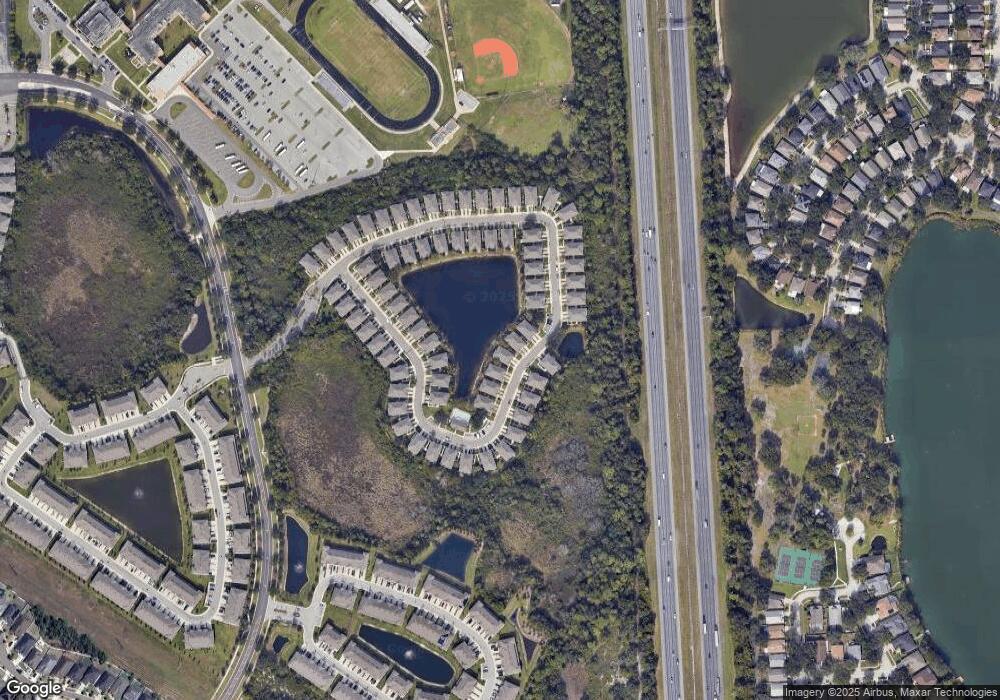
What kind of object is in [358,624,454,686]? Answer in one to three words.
pond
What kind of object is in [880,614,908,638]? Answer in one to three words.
house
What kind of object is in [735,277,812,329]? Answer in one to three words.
pond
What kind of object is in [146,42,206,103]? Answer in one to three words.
building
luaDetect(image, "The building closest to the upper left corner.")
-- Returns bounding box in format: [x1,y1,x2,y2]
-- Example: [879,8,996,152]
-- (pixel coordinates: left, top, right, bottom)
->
[73,0,123,47]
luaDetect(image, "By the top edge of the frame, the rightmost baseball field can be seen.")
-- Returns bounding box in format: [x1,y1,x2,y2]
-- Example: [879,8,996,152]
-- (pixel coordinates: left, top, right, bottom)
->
[473,0,573,84]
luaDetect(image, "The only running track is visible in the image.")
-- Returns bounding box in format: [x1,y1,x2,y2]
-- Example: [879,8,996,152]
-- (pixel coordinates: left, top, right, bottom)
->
[291,0,445,136]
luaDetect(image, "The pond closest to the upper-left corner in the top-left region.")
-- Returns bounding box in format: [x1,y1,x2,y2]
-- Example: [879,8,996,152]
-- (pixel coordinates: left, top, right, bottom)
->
[26,106,186,229]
